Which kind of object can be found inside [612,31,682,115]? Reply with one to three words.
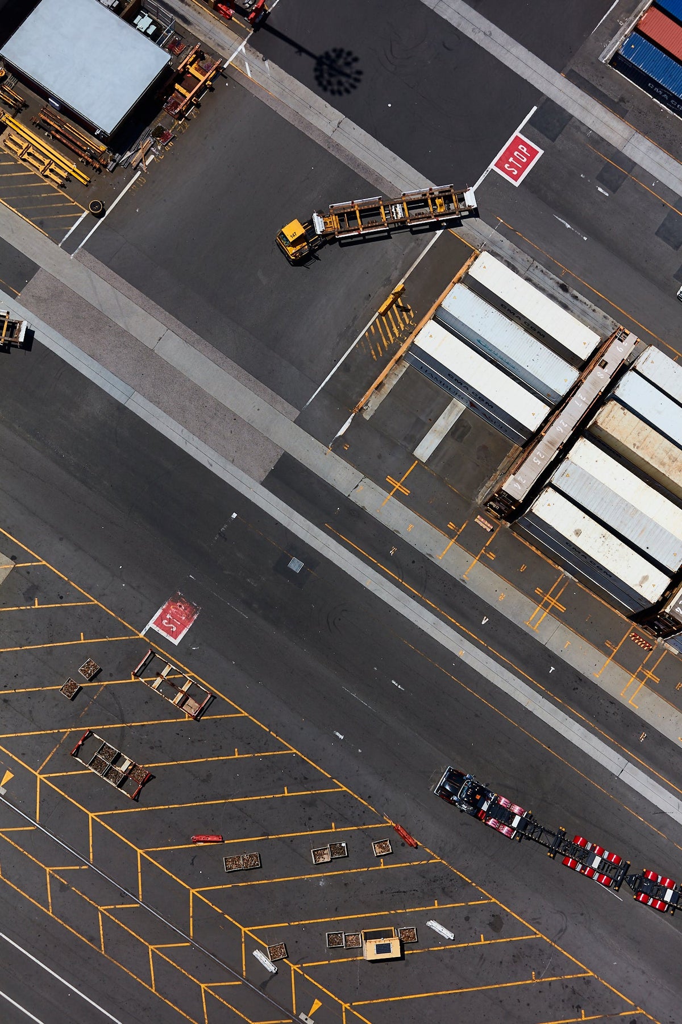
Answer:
shipping container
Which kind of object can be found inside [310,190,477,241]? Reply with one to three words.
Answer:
trailer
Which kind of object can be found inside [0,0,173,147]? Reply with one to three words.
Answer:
shed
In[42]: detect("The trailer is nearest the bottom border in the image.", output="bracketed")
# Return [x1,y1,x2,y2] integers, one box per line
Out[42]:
[626,869,682,913]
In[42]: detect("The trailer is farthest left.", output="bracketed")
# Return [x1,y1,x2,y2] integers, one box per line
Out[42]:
[0,308,31,347]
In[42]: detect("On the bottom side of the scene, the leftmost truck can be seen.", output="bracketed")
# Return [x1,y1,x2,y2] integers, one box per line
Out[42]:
[434,766,527,840]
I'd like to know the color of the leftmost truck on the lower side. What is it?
black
